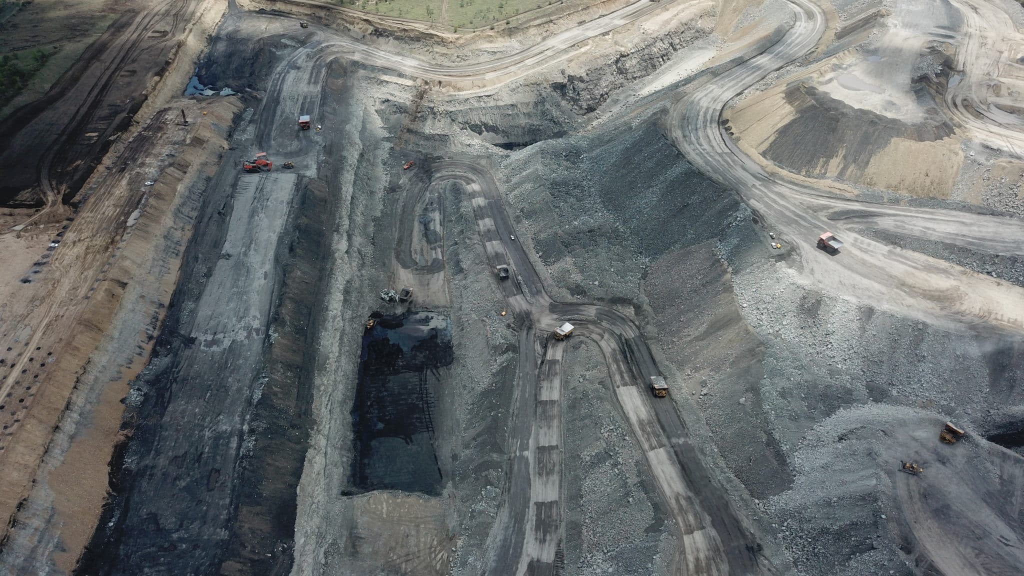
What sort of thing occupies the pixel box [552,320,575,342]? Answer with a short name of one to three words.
truck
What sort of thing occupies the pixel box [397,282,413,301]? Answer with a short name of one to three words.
vehicle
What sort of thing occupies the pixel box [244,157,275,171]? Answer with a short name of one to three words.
work vehicle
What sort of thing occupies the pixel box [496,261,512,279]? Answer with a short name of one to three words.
vehicle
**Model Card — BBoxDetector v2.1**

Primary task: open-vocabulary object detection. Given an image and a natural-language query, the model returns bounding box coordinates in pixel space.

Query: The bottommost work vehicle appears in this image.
[896,457,925,477]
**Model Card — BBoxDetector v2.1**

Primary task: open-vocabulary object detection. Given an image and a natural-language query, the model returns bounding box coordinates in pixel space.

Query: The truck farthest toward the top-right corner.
[818,229,848,251]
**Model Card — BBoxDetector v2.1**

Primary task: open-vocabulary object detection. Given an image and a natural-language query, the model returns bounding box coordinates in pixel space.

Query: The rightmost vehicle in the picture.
[937,418,968,447]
